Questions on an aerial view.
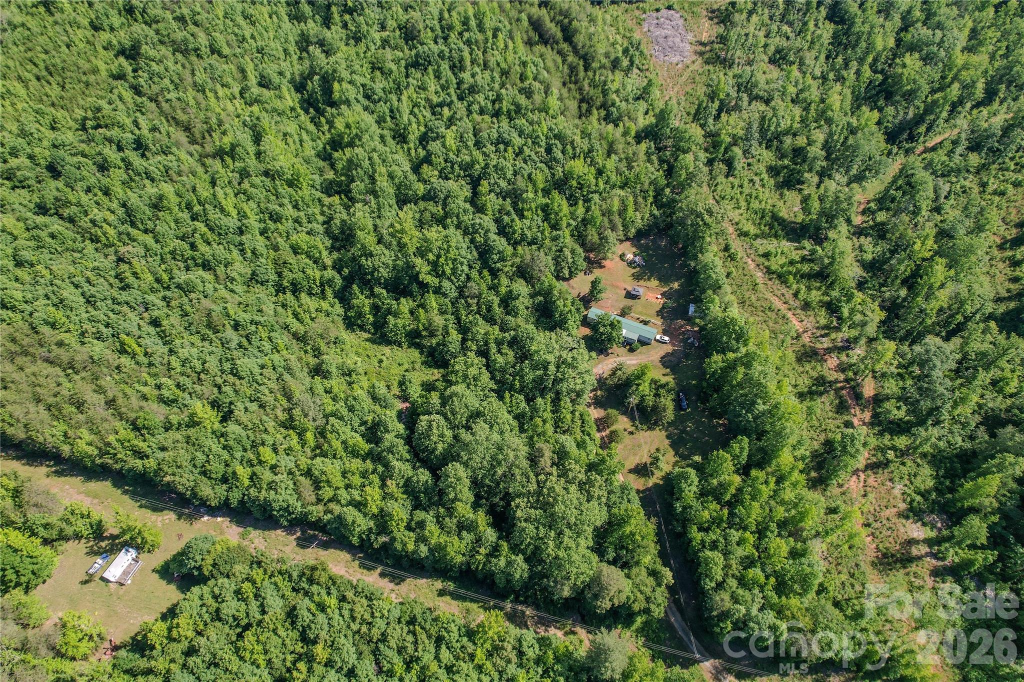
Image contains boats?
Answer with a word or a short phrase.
No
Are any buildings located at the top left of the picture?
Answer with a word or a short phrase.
No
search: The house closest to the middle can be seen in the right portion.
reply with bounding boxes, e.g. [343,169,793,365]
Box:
[588,307,658,347]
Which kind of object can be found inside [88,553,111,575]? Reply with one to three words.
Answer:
truck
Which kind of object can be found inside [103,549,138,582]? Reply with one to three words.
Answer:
camper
